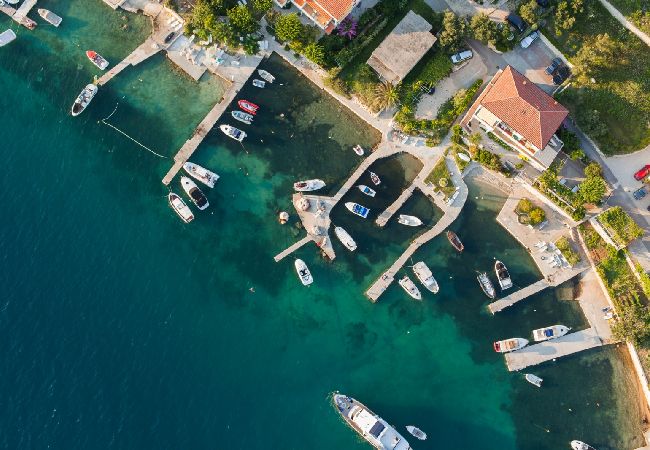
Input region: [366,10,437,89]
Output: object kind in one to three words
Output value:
house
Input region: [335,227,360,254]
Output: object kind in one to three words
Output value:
boat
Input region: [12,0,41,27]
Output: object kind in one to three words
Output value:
pier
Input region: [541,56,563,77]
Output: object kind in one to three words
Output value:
car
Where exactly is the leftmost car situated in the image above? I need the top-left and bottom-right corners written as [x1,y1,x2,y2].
[449,49,473,65]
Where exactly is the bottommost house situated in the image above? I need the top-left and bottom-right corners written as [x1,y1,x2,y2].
[461,65,569,171]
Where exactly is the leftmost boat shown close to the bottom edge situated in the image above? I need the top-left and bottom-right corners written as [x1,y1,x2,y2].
[334,394,416,450]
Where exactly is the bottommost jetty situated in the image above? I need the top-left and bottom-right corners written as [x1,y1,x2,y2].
[503,326,602,371]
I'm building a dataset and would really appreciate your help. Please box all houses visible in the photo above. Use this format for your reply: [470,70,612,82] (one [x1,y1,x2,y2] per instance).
[461,65,569,171]
[265,0,361,51]
[366,10,437,89]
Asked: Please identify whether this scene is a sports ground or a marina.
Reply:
marina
